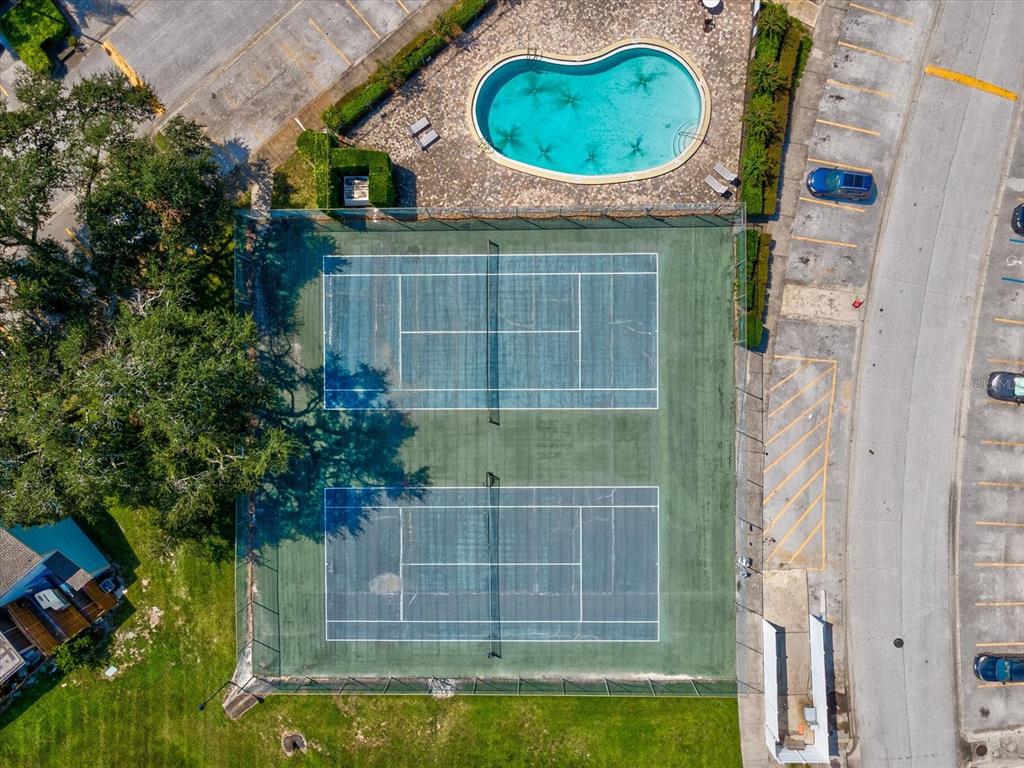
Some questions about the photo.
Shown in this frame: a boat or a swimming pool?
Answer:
swimming pool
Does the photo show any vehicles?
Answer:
Yes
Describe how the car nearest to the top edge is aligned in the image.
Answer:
from side to side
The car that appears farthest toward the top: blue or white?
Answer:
blue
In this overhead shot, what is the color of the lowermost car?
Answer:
blue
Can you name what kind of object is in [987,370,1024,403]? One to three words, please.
car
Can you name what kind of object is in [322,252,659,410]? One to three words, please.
tennis court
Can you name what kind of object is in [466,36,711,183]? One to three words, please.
swimming pool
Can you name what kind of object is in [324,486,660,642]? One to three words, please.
tennis court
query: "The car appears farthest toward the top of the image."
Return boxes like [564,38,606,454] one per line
[804,164,874,201]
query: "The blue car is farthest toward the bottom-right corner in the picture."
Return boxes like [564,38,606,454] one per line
[974,655,1024,690]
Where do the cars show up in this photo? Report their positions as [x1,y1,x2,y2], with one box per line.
[974,655,1024,690]
[804,164,874,201]
[987,370,1024,403]
[1012,206,1024,234]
